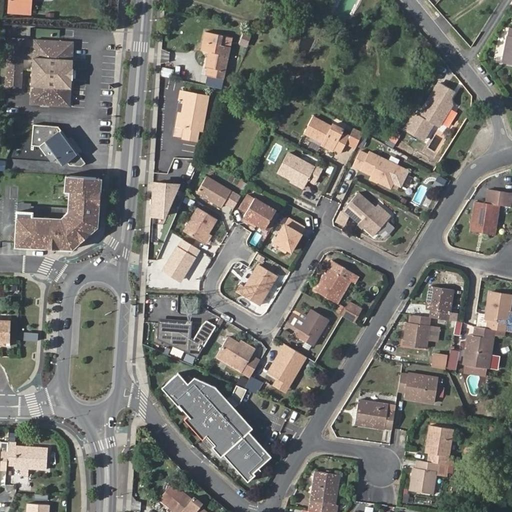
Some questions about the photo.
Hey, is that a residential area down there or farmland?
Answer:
residential area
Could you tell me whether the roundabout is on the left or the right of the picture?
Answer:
left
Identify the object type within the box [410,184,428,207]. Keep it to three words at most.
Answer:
swimming pool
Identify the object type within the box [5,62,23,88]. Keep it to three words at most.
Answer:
shed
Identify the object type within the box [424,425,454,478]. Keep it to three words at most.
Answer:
house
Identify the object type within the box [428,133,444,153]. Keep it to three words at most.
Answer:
swimming pool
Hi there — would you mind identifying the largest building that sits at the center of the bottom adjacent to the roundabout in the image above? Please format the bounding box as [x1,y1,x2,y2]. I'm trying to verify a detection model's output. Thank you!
[161,372,272,483]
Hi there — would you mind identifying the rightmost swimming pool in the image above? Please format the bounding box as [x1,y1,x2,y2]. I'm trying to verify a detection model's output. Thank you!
[466,376,482,397]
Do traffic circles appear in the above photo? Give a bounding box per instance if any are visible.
[68,281,119,404]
